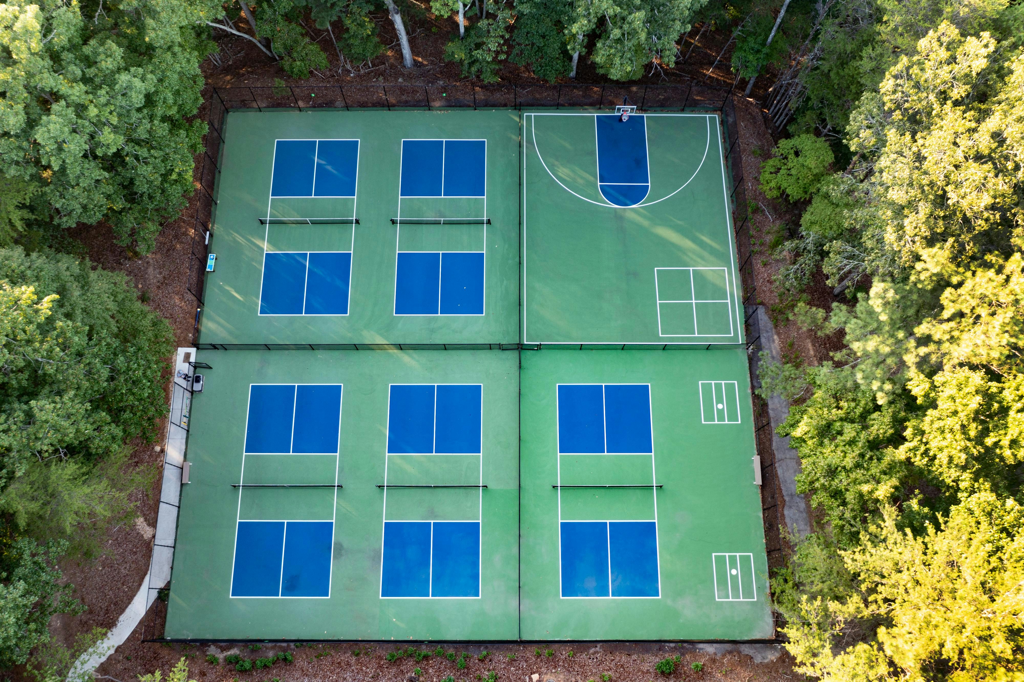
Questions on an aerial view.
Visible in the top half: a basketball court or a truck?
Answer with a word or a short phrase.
basketball court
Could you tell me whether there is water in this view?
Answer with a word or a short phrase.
No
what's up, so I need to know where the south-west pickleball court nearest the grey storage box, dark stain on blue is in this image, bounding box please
[230,384,343,597]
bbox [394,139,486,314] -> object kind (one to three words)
sports court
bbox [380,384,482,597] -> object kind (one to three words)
sports court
